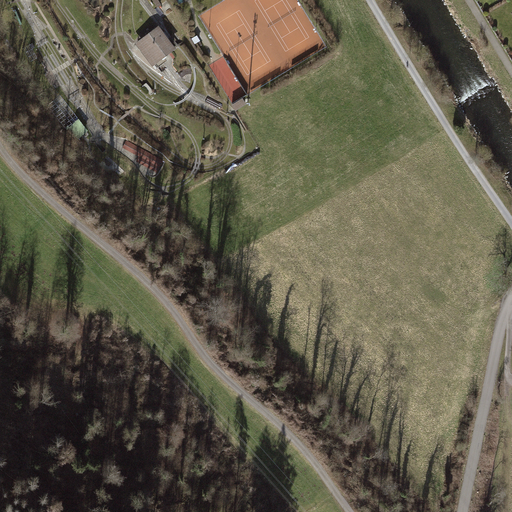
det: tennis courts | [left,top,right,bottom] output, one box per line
[246,0,325,70]
[200,0,288,93]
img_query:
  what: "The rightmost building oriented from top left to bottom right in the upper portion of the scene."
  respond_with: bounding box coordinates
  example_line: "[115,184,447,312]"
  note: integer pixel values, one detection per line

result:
[209,56,246,102]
